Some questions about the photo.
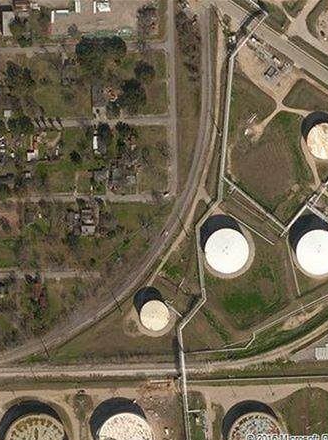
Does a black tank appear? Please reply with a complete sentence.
No, the frame has no black tank in it.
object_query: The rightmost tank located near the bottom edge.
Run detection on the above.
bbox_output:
[227,411,286,440]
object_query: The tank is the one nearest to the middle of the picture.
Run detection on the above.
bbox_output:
[205,228,251,275]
